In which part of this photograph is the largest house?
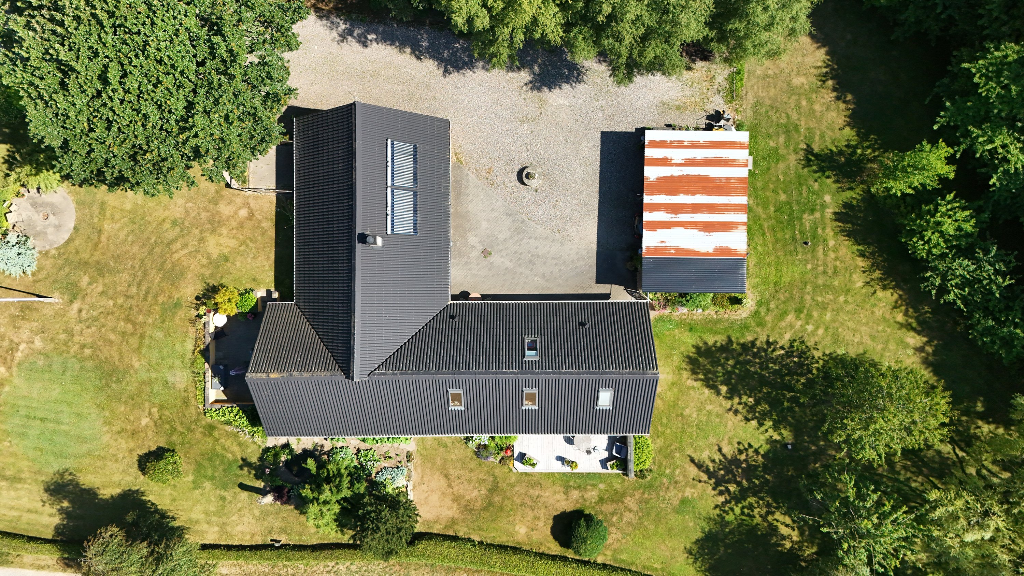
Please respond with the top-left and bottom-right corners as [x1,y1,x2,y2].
[245,88,660,436]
